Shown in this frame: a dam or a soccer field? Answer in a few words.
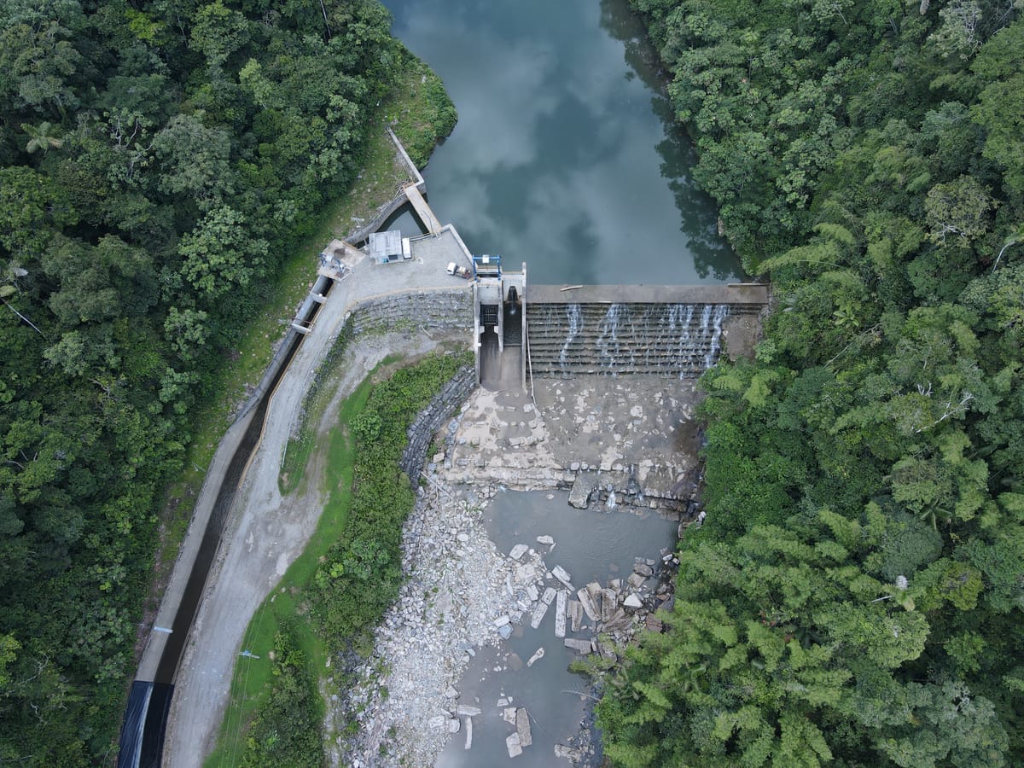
dam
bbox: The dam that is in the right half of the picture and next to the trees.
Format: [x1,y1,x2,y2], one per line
[526,284,771,375]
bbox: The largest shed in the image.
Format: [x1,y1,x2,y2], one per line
[369,229,405,269]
